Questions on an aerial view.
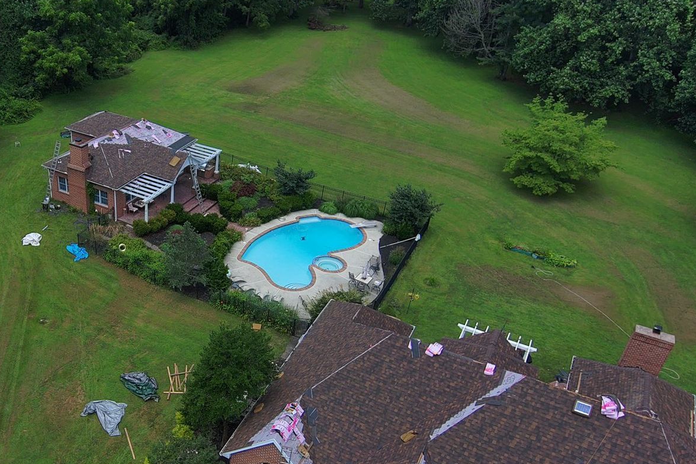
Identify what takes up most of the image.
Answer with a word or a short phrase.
grass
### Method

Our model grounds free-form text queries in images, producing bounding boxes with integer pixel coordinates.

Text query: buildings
[41,111,223,235]
[218,300,696,464]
